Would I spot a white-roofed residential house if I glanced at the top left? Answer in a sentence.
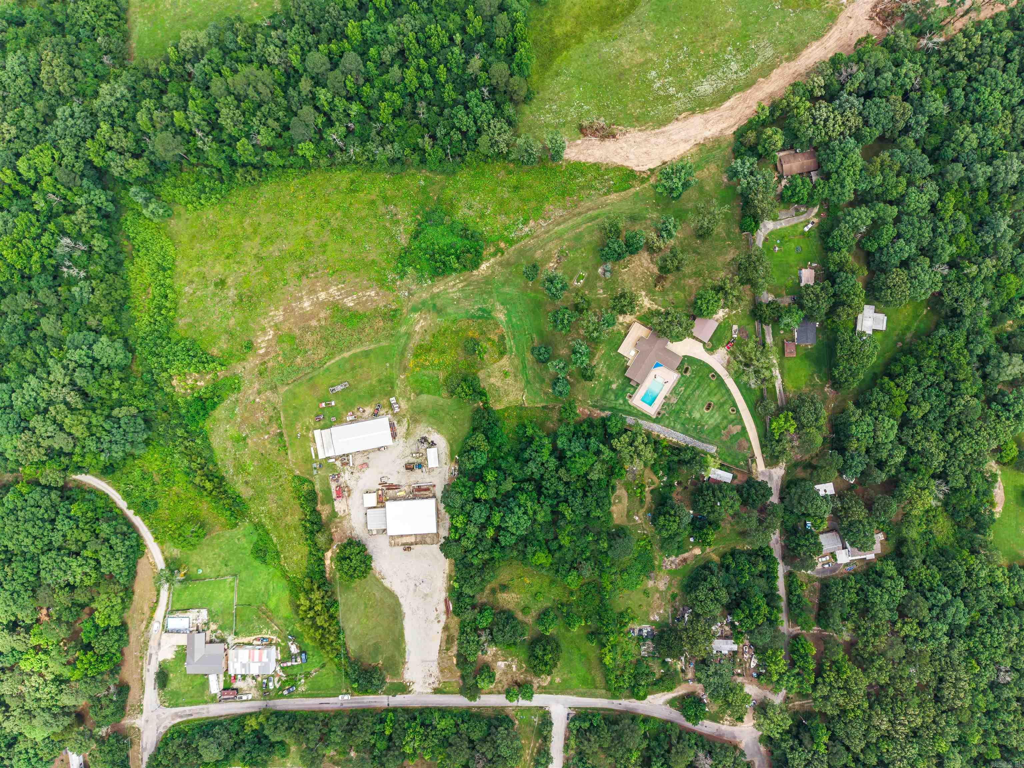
No, there is no white-roofed residential house at the top left.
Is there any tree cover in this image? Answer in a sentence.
Yes, the picture does contain tree cover.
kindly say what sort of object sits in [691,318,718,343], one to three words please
building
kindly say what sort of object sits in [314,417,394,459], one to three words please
building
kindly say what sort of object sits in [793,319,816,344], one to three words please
house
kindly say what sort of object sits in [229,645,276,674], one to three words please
barn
